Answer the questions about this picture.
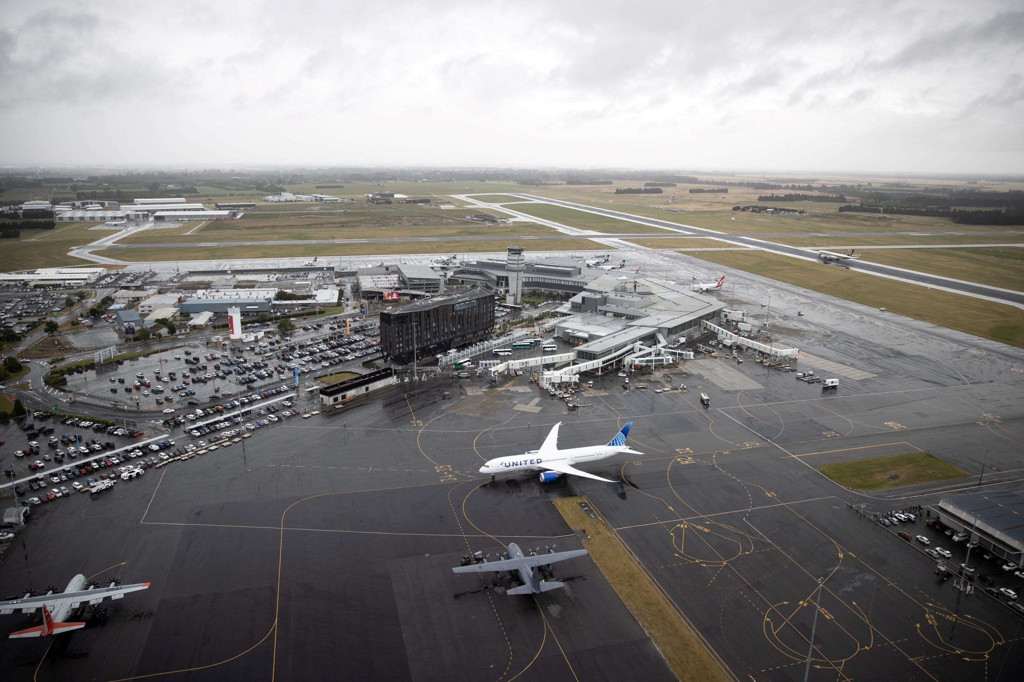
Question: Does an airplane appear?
Yes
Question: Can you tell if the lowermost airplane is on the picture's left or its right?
left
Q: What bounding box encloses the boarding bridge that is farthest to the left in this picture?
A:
[489,354,576,380]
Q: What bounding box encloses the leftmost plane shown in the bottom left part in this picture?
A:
[0,570,151,636]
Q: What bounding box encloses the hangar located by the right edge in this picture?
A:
[921,481,1024,569]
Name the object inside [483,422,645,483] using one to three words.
airplane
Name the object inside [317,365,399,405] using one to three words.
building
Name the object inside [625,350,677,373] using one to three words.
jet bridge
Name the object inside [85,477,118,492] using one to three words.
vehicle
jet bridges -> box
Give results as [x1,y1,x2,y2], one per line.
[650,334,698,363]
[701,322,802,359]
[721,308,771,332]
[545,341,640,389]
[489,354,576,380]
[625,350,677,373]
